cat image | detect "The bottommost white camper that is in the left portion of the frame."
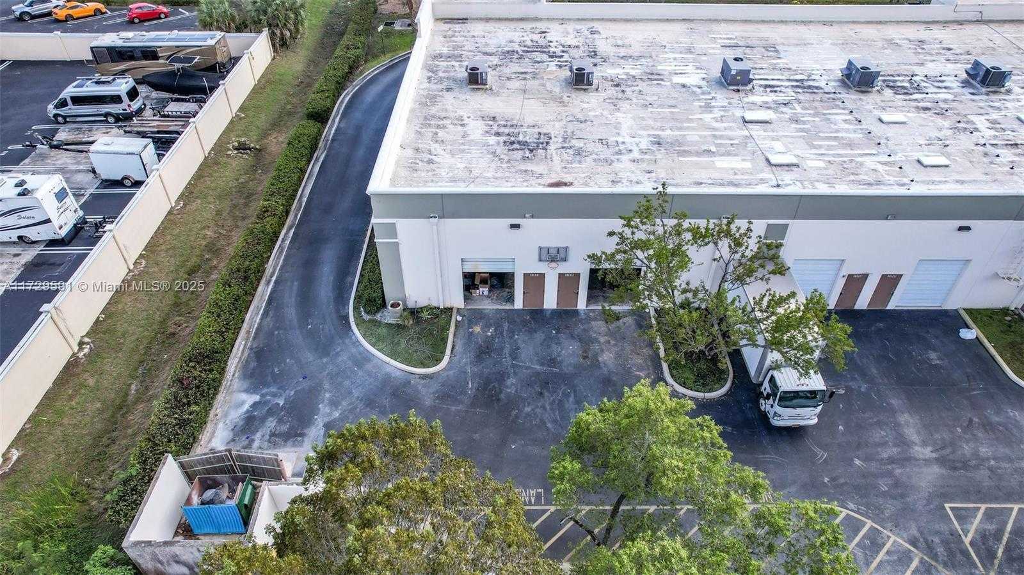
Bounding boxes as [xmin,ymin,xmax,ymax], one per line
[0,173,88,243]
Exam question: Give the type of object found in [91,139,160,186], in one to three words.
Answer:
trailer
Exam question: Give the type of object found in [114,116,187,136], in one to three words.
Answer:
trailer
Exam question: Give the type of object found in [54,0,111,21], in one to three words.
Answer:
car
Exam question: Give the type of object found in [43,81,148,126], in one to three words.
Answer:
van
